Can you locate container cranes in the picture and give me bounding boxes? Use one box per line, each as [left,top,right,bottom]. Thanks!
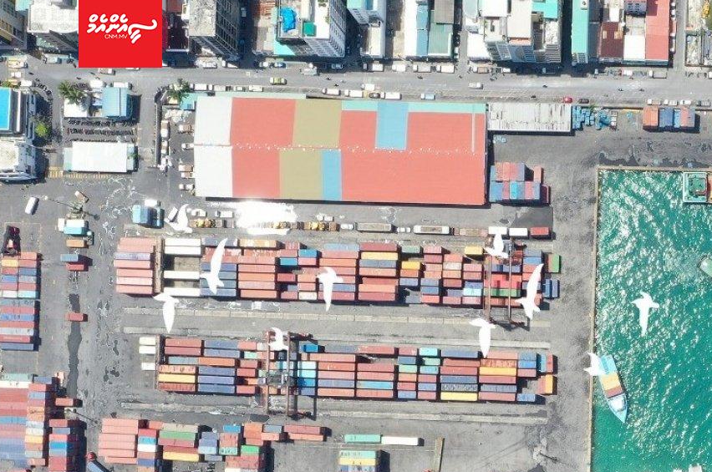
[266,331,307,418]
[488,227,520,333]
